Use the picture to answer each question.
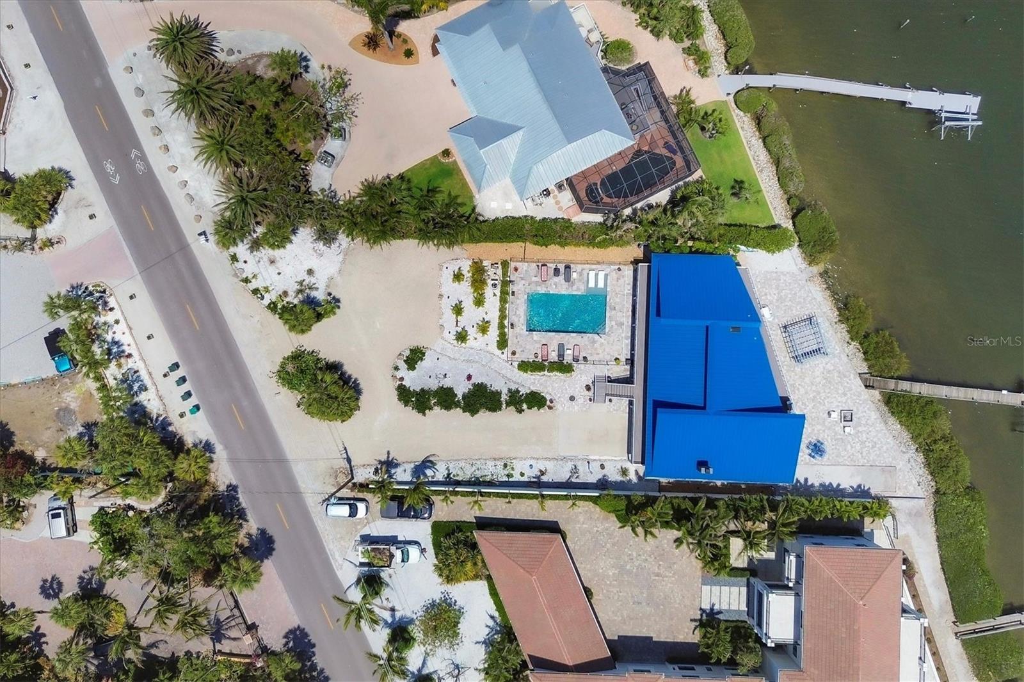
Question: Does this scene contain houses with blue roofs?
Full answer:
Yes, you can see a house with a blue roof in this photo.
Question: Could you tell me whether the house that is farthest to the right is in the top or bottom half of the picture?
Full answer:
Seen from above, the house that is farthest to the right lies in the bottom half of the view.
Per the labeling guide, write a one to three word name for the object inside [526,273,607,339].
swimming pool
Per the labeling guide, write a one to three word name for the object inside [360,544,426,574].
truck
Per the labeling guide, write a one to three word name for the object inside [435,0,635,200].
house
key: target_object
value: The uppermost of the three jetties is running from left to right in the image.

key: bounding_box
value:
[716,52,981,114]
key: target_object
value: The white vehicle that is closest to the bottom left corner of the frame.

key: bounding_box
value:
[47,497,75,541]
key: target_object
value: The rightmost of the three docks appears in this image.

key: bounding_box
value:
[952,609,1024,641]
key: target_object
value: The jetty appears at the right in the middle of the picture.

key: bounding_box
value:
[858,373,1024,409]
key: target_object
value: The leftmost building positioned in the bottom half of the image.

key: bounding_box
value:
[473,529,618,682]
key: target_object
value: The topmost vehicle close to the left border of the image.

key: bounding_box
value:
[35,330,75,374]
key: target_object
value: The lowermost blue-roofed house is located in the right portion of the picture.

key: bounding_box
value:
[629,253,805,484]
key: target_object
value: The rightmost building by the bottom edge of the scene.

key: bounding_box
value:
[750,537,930,682]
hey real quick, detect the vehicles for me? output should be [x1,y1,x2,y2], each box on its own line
[380,499,434,522]
[360,544,426,574]
[35,330,75,374]
[326,500,370,521]
[47,497,75,541]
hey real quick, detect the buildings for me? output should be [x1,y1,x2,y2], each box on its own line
[473,529,618,682]
[750,537,930,682]
[435,0,635,200]
[629,253,805,484]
